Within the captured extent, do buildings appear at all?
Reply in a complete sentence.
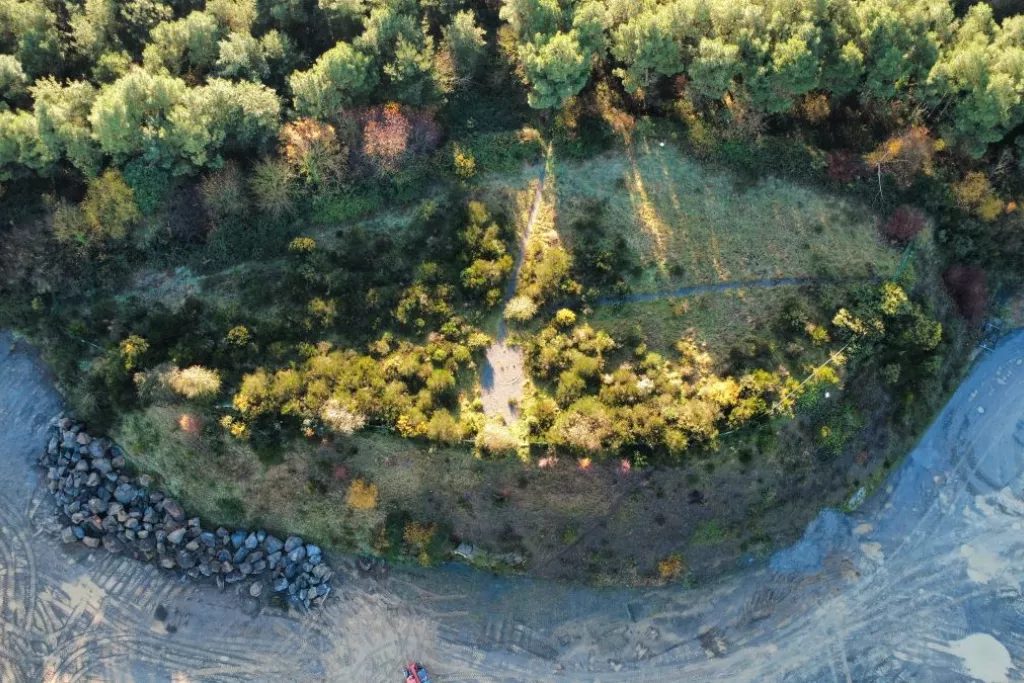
No, I can see no building in this picture.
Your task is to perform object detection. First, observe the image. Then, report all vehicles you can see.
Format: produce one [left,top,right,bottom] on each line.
[404,660,428,683]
